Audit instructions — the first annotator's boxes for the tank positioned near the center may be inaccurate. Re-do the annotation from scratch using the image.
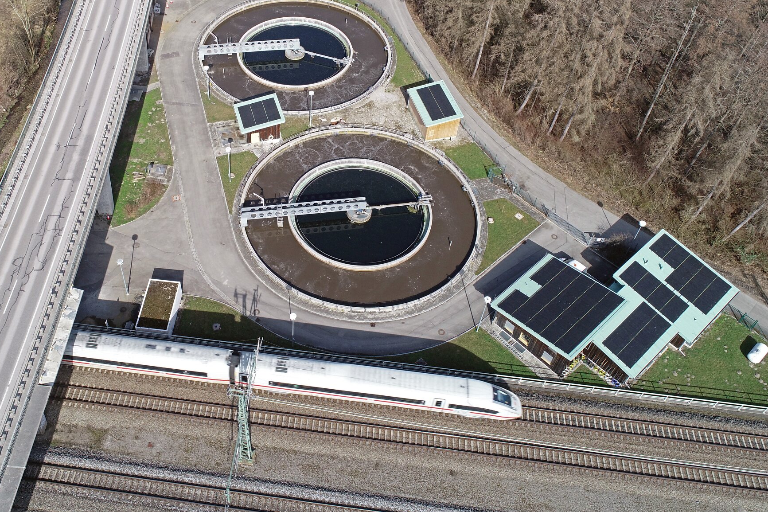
[239,123,482,312]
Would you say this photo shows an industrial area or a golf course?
industrial area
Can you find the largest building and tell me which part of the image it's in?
right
